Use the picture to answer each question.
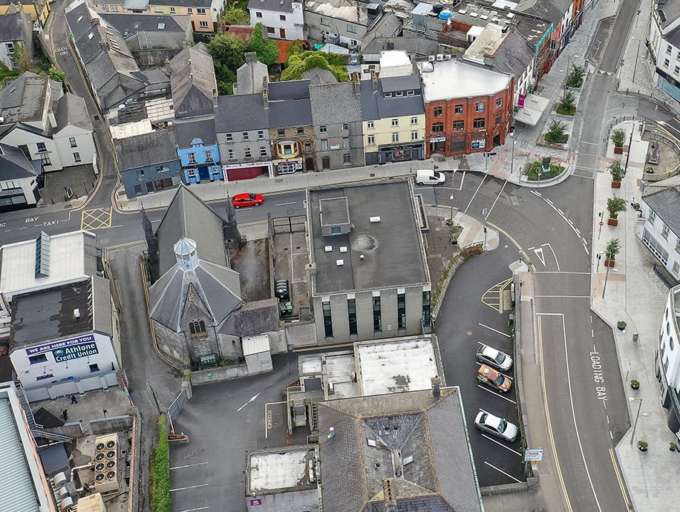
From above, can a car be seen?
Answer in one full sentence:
Yes, this view includes a car.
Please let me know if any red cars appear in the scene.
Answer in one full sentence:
Yes, looking at the shot, I can spot a red car.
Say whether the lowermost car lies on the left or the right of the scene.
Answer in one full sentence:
The lowermost car appears in the right half of the scene.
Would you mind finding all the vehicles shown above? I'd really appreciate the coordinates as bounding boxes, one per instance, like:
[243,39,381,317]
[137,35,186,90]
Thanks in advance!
[473,359,514,391]
[415,167,446,185]
[473,341,515,372]
[472,408,520,441]
[231,190,263,208]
